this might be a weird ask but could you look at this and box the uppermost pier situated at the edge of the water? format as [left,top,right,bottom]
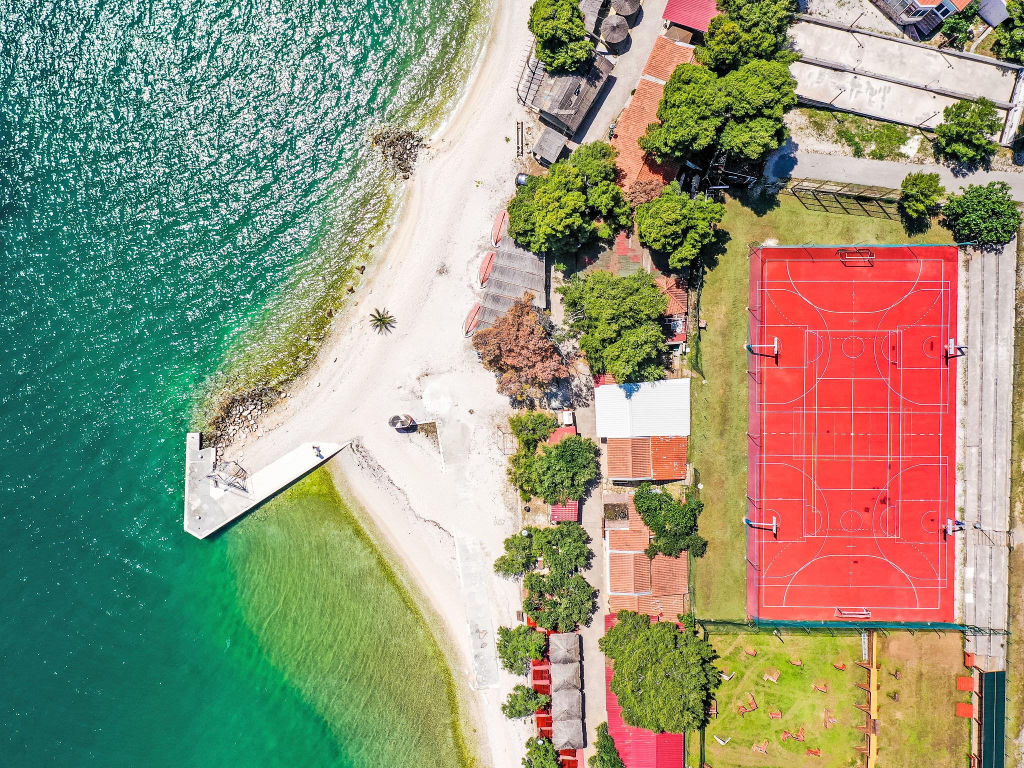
[184,432,352,539]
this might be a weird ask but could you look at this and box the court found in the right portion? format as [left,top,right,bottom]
[746,246,958,622]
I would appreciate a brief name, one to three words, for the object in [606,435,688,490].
house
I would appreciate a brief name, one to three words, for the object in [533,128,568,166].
shed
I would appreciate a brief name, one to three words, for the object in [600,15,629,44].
umbrella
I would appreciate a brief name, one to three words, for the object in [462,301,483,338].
boat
